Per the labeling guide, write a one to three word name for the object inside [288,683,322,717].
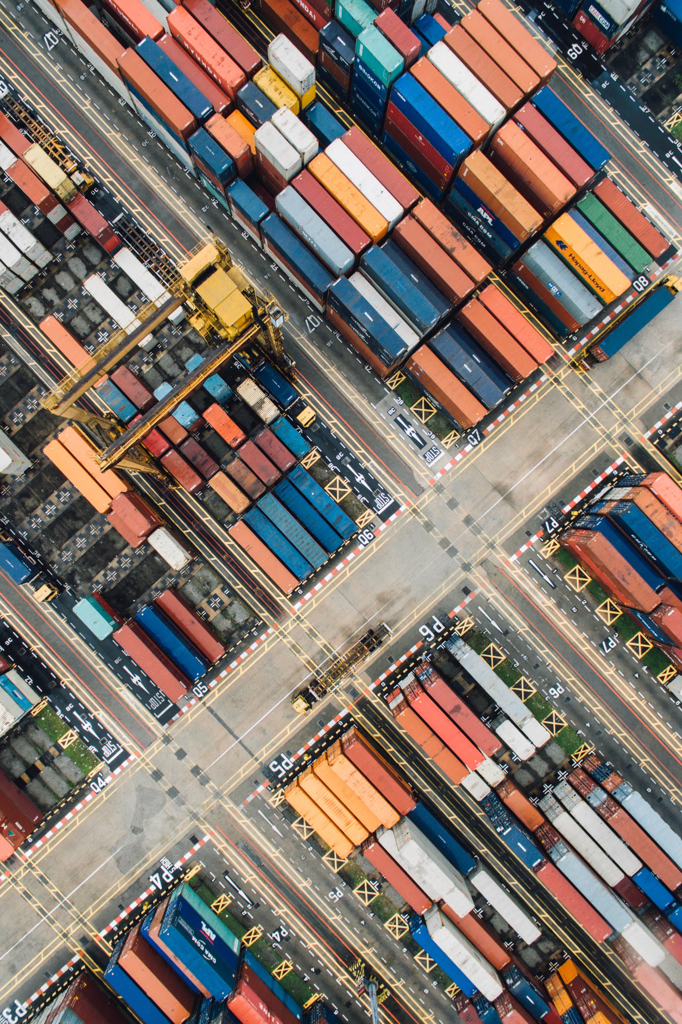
truck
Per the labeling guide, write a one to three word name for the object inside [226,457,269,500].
shipping container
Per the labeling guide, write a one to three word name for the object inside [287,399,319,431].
truck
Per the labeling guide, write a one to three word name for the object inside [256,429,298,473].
shipping container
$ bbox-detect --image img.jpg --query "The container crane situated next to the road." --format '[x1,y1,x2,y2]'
[35,234,301,490]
